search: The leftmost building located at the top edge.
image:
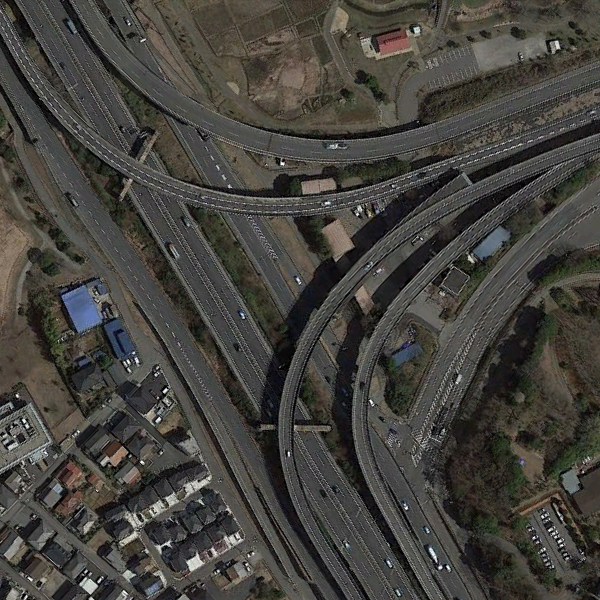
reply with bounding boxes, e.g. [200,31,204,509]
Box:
[363,29,412,57]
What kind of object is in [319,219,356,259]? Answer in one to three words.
building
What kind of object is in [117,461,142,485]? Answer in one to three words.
house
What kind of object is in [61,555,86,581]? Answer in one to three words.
house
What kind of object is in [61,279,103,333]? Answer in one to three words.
building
